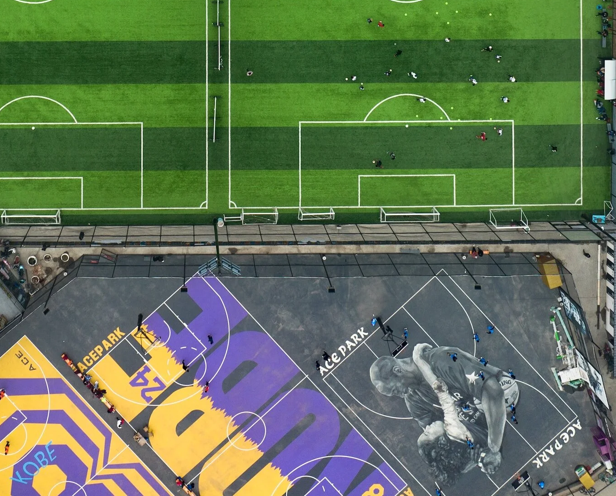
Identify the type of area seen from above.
sports ground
